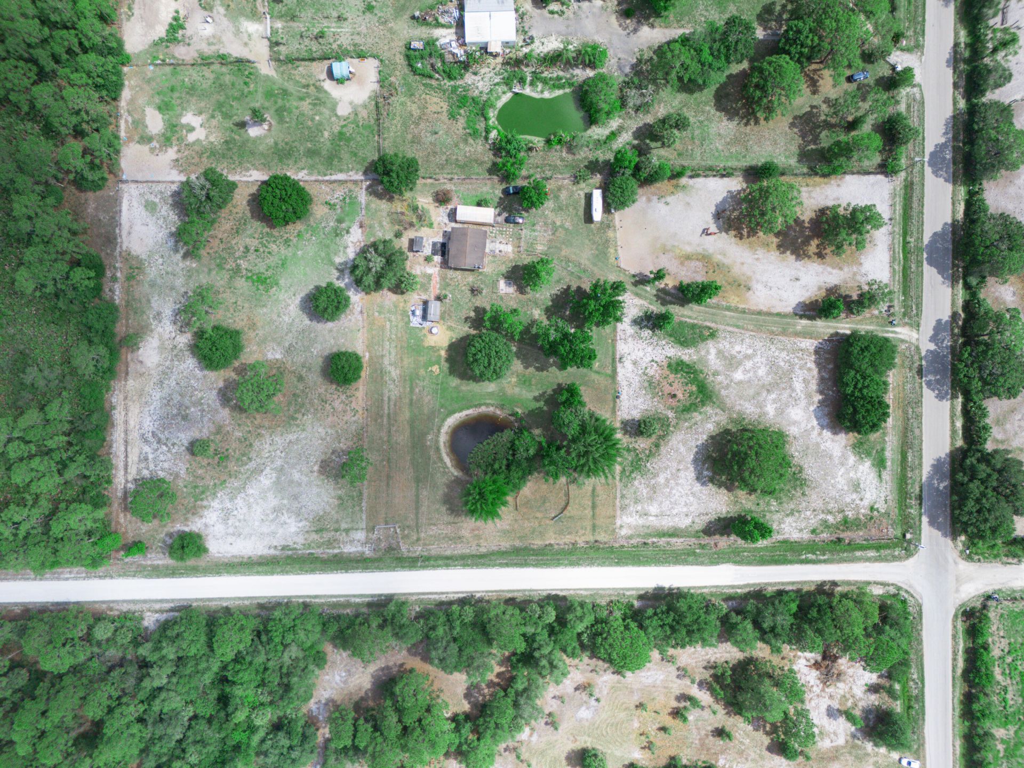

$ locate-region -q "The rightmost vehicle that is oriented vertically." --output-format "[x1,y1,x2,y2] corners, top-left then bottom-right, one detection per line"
[591,190,603,228]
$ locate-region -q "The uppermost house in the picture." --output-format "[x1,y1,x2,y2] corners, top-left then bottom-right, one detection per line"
[465,0,516,56]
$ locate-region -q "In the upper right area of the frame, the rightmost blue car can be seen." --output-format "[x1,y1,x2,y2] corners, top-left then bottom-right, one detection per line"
[848,70,869,84]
